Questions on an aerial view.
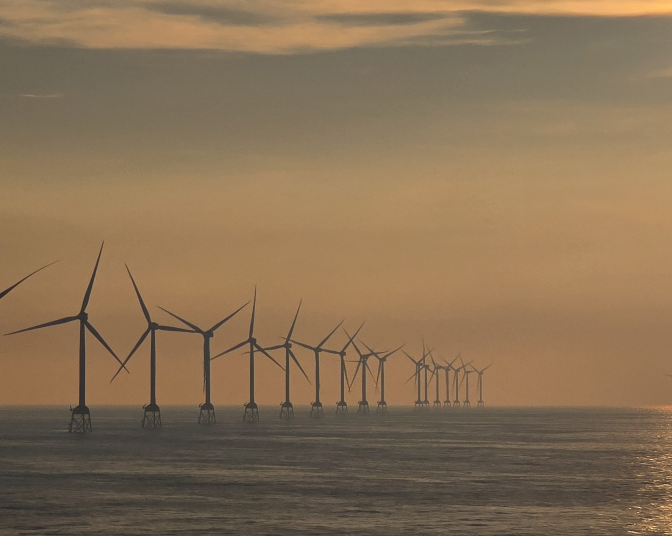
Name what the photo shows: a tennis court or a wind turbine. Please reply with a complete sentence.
Looking from above, you can make out a wind turbine.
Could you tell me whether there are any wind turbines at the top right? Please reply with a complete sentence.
No, I can find no wind turbine at the top right.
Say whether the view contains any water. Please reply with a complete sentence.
Yes, there is water in the image.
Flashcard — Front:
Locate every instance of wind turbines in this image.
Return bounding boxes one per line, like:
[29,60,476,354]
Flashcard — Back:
[396,348,434,412]
[430,351,456,409]
[0,260,65,301]
[110,262,207,428]
[241,298,308,420]
[310,321,360,416]
[209,285,283,422]
[467,363,489,408]
[409,340,436,410]
[458,355,479,408]
[279,316,339,417]
[155,298,246,426]
[3,238,126,433]
[342,326,386,414]
[357,341,400,413]
[423,343,452,410]
[438,356,471,409]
